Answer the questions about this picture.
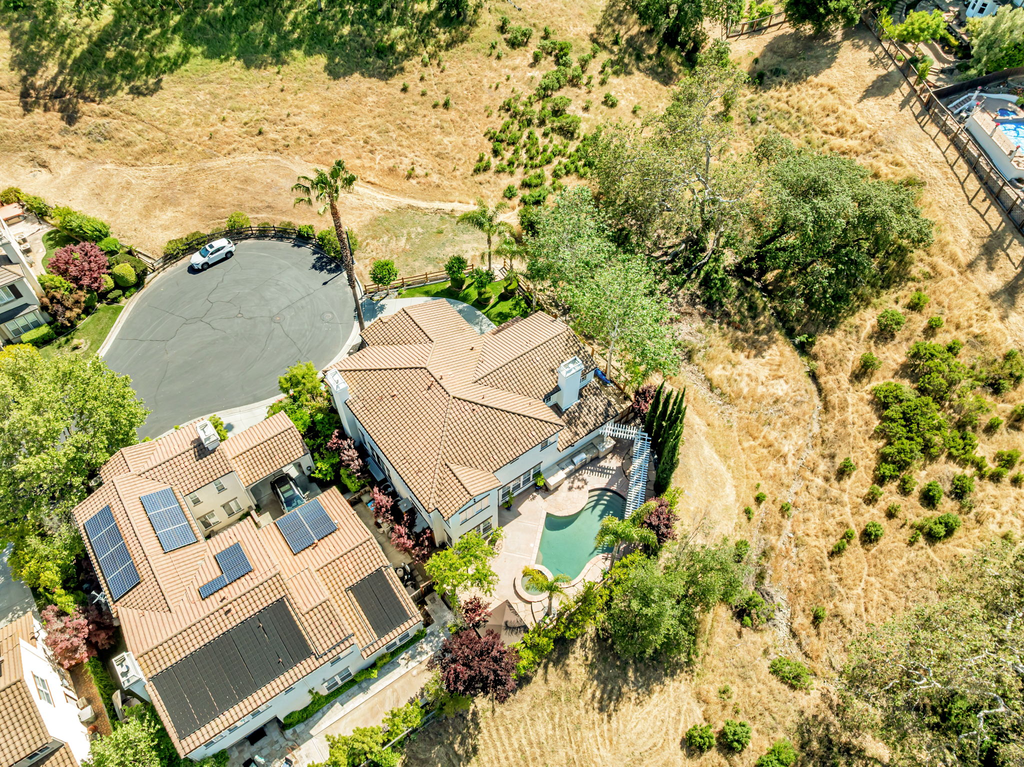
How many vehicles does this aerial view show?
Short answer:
two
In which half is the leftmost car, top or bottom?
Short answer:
top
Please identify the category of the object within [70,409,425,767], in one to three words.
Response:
house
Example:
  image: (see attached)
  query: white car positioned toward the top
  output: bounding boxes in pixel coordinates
[187,237,236,270]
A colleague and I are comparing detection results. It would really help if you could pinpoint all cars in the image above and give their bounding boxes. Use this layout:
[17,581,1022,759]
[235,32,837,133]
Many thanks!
[187,237,236,270]
[266,469,309,514]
